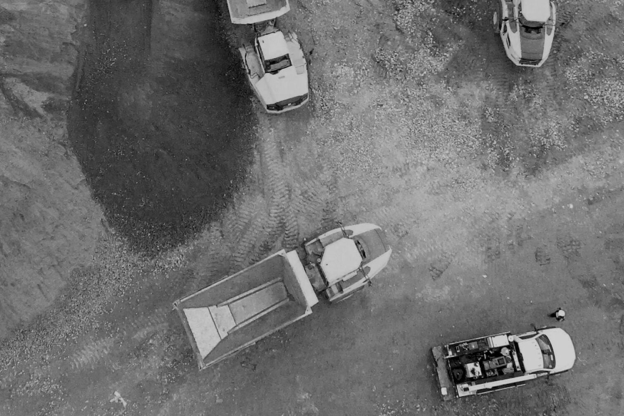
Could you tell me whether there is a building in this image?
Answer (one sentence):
No, I can see no building in this picture.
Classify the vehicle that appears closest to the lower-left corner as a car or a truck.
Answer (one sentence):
It looks like the vehicle that appears closest to the lower-left corner is a truck.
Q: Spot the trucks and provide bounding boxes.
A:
[226,0,307,119]
[429,327,577,399]
[169,220,392,377]
[494,0,565,67]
